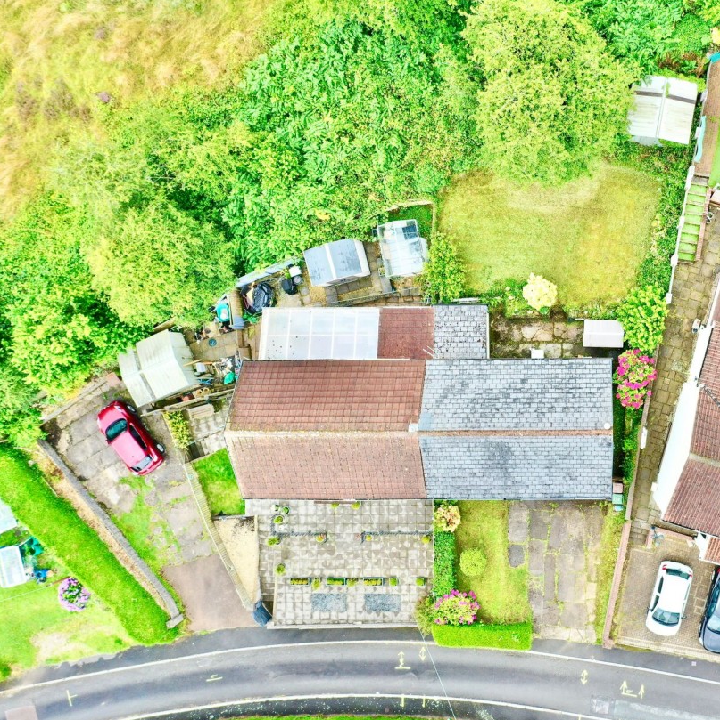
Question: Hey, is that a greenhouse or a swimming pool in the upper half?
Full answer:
The feature located in the upper half is a greenhouse.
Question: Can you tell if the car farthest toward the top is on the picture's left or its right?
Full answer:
The car farthest toward the top sits on the left side.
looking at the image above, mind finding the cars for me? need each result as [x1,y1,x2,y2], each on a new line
[93,399,160,483]
[646,560,697,643]
[700,572,720,658]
